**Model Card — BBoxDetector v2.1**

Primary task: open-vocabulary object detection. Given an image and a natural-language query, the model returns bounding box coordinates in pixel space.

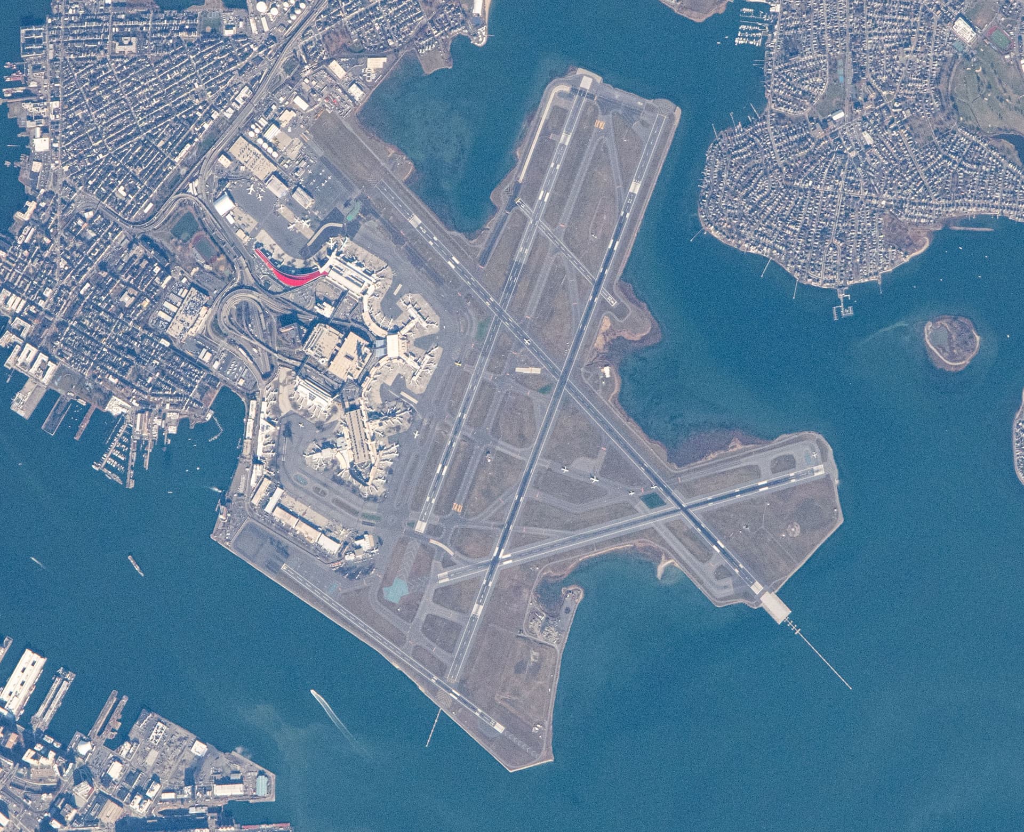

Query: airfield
[211,68,842,771]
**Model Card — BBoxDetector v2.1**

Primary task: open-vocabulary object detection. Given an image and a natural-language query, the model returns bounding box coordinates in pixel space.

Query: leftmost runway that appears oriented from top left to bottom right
[282,564,505,732]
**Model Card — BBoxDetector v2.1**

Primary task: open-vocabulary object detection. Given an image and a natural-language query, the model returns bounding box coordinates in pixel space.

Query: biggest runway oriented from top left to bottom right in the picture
[375,178,765,595]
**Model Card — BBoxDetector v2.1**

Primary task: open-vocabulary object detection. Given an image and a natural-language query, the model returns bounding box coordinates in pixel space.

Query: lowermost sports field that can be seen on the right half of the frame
[813,77,847,118]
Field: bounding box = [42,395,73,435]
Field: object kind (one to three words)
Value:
pier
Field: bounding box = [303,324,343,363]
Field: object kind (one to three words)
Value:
building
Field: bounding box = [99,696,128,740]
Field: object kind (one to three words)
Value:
pier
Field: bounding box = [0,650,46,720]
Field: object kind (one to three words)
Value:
building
